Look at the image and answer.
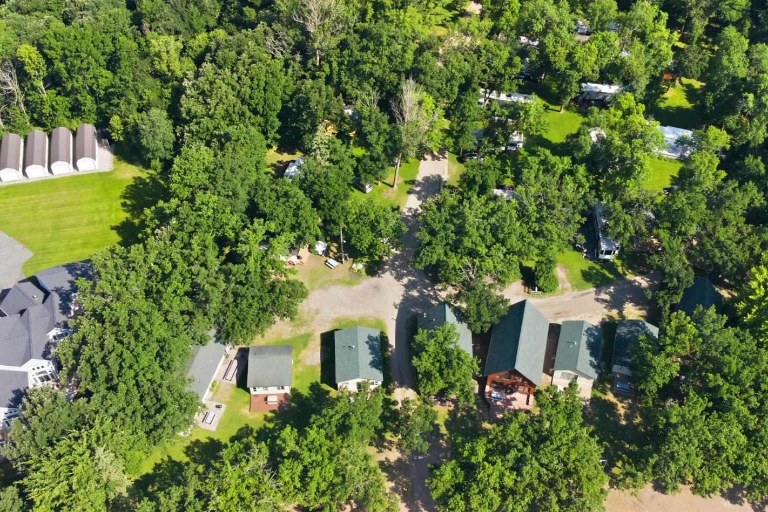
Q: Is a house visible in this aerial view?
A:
Yes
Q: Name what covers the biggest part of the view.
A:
trees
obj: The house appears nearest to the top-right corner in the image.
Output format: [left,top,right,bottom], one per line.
[654,126,692,169]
